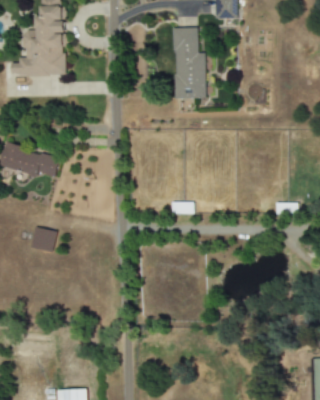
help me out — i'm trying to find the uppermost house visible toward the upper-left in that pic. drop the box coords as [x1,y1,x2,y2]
[12,0,66,75]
